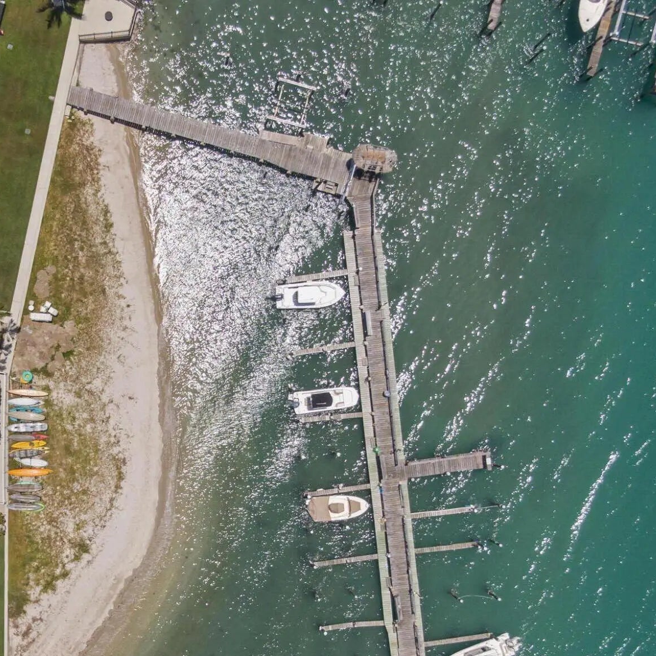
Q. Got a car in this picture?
No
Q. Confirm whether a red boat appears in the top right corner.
No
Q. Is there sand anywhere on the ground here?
Yes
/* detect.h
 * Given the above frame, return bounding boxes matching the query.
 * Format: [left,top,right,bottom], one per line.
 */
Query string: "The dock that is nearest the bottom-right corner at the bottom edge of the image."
[425,629,491,646]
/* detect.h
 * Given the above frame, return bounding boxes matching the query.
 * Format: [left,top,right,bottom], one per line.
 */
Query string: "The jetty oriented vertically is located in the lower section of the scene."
[340,230,426,656]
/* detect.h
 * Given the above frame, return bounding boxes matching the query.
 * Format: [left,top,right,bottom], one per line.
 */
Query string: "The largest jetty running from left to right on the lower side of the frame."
[389,451,494,482]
